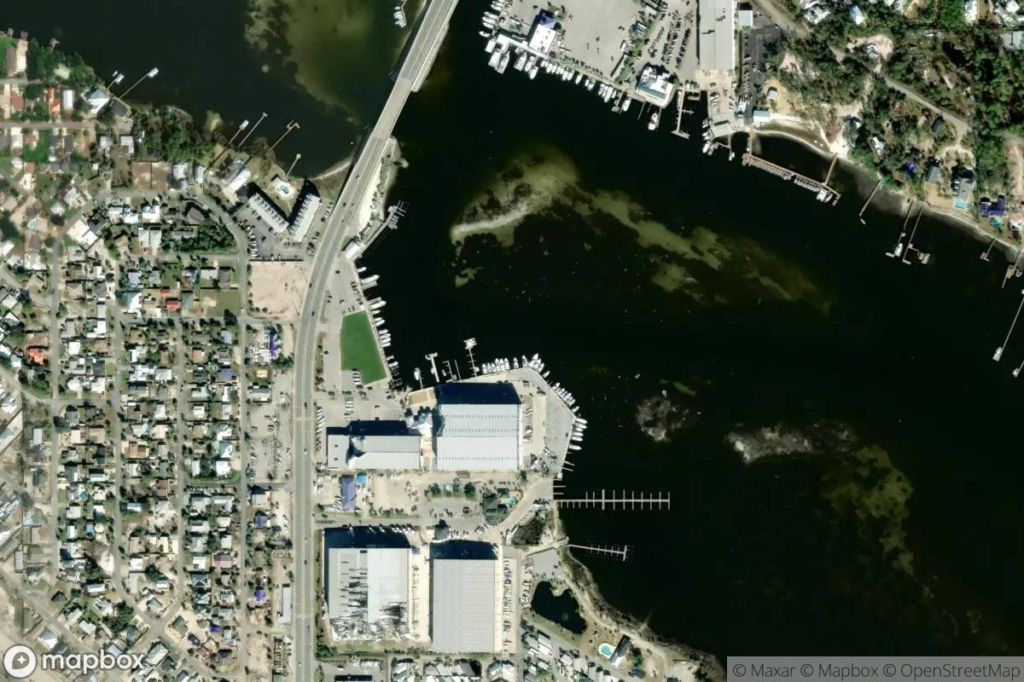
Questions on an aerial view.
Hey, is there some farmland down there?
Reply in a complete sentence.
No, no farmland is visible.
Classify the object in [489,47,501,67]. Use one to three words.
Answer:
boat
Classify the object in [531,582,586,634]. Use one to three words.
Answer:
pond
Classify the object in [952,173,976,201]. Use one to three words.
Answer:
house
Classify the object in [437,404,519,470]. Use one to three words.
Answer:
shed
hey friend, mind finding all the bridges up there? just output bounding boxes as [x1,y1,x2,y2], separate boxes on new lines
[368,72,413,146]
